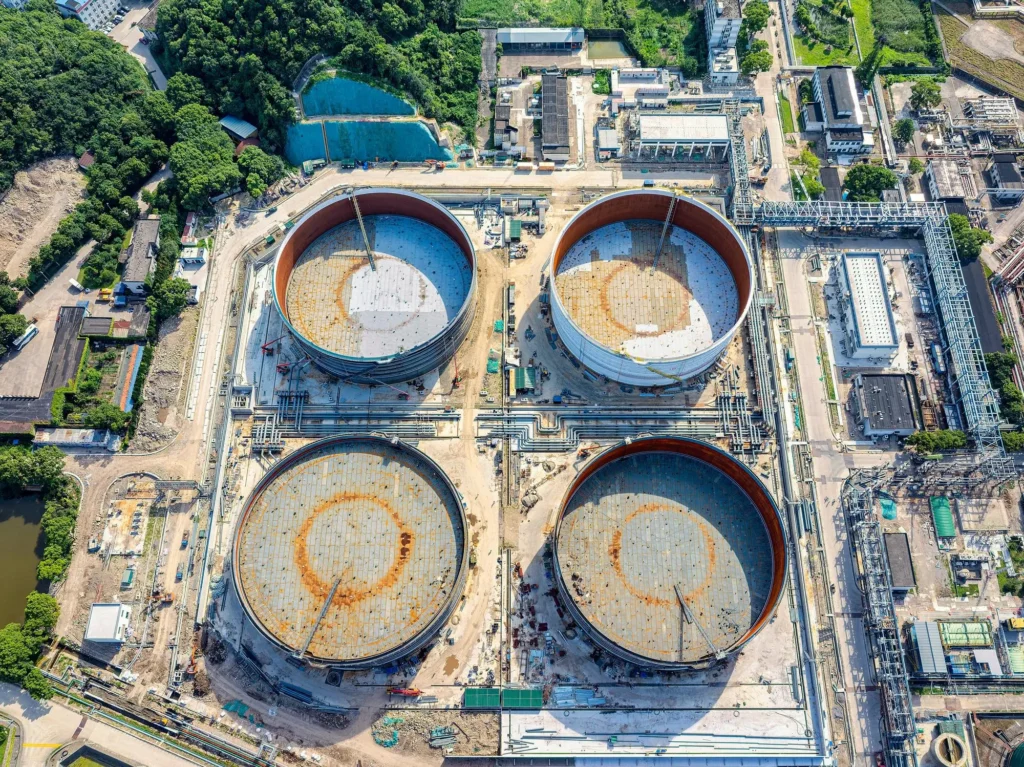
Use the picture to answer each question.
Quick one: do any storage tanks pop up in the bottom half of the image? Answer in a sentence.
Yes, looking in the bottom half of the image, one can make out a storage tank.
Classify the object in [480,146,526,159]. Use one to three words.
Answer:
shed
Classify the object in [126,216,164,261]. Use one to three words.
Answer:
house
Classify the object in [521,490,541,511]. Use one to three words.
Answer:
vehicle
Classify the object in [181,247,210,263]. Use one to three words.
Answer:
building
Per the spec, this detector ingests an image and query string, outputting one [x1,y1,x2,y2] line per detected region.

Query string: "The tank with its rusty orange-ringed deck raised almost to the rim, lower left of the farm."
[232,434,471,674]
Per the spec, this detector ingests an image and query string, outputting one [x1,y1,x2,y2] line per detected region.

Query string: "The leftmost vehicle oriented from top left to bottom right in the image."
[66,275,84,290]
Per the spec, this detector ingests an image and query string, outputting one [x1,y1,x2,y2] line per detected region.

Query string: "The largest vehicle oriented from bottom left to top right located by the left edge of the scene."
[10,320,38,346]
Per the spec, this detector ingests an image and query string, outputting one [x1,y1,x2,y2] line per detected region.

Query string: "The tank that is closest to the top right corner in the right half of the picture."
[549,185,754,385]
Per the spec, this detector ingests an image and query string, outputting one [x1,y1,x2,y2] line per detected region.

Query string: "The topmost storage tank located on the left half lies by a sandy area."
[272,182,476,384]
